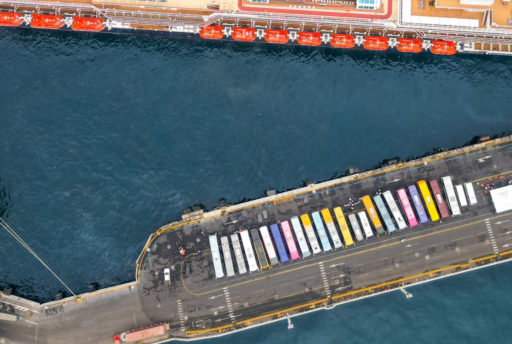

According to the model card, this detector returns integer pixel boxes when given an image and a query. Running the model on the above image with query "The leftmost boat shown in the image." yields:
[0,10,26,24]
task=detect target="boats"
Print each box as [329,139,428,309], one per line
[70,15,106,30]
[199,24,225,38]
[29,13,64,27]
[429,40,458,54]
[230,26,257,40]
[395,37,423,51]
[0,10,26,24]
[329,33,355,47]
[361,35,388,49]
[296,31,324,45]
[263,29,291,43]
